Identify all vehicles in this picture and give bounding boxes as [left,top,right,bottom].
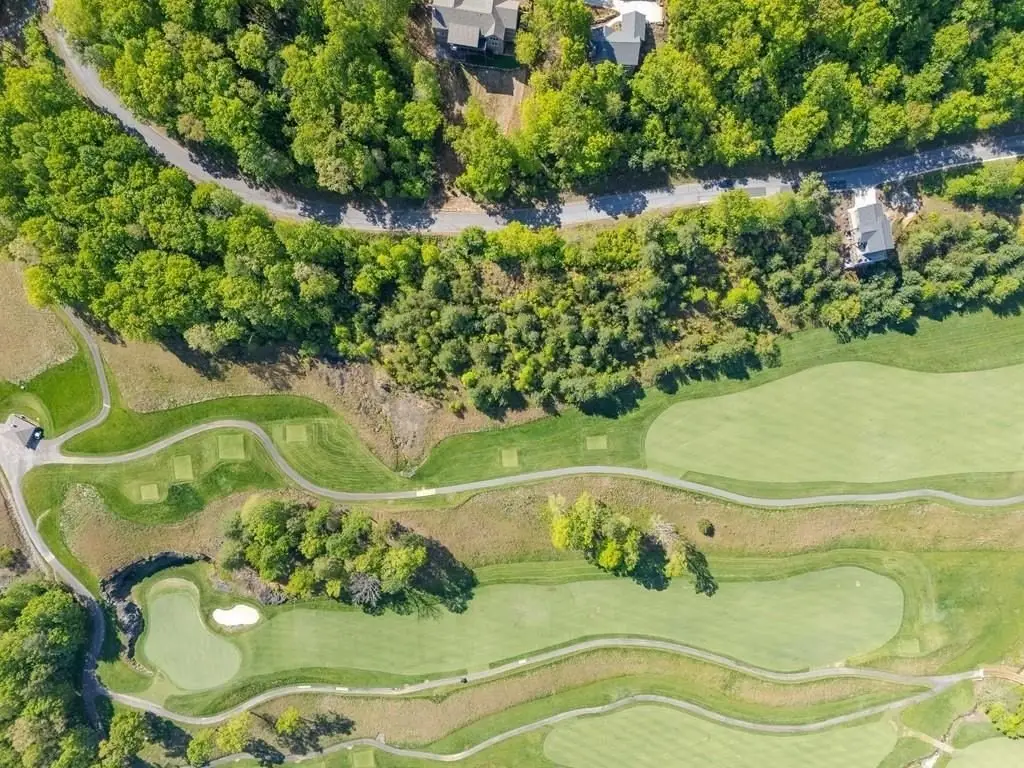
[831,179,849,188]
[31,430,40,439]
[459,678,468,686]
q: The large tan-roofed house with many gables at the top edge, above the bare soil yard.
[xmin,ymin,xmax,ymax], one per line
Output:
[437,0,521,59]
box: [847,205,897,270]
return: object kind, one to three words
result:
house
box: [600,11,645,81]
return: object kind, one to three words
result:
house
